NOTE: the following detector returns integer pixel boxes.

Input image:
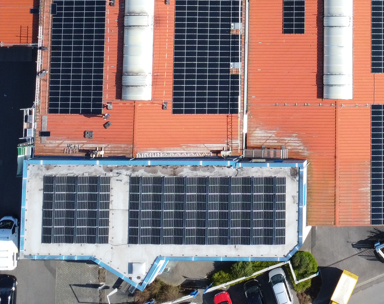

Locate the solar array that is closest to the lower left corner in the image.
[42,175,112,244]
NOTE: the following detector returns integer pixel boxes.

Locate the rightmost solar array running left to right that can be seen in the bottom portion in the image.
[128,175,285,244]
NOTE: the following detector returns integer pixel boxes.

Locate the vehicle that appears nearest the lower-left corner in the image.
[0,274,15,304]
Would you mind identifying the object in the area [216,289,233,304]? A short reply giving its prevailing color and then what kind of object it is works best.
red car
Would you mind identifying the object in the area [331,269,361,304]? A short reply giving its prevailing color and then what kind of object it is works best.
white truck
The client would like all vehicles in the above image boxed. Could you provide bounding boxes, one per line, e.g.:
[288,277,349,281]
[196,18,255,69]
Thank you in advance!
[0,215,20,274]
[216,289,233,304]
[0,274,15,304]
[247,278,267,304]
[271,266,294,304]
[331,269,361,304]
